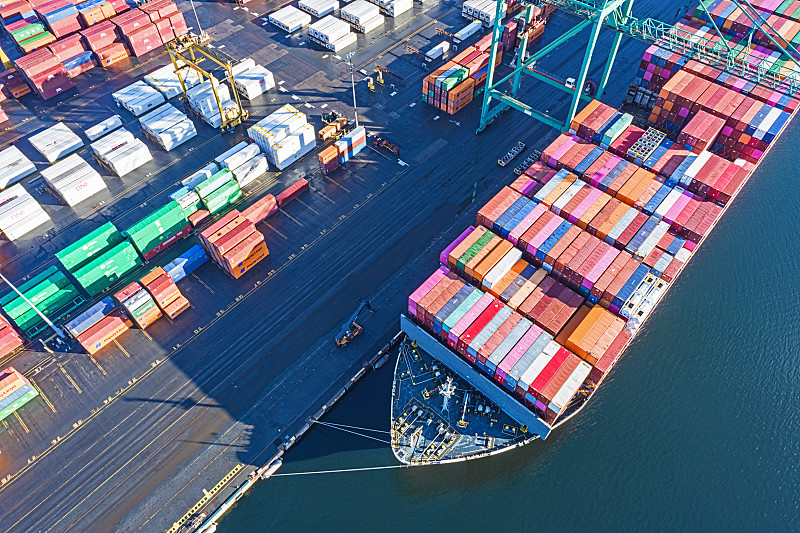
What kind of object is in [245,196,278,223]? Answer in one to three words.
shipping container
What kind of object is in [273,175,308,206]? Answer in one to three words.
shipping container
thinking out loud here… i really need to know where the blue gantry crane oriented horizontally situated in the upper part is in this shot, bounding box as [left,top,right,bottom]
[474,0,800,134]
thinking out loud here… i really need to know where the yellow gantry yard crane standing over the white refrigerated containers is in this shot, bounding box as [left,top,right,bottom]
[167,37,250,131]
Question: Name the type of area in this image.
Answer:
port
